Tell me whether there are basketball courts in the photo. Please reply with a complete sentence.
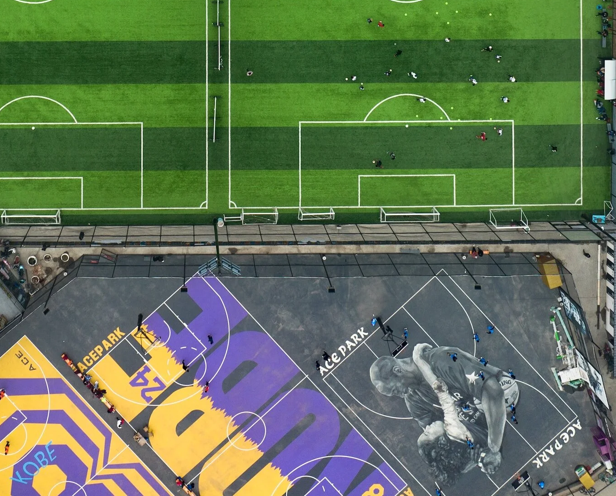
Yes, I can see a basketball court in this picture.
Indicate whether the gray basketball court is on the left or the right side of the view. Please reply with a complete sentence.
You can find the gray basketball court on the right side of the picture.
